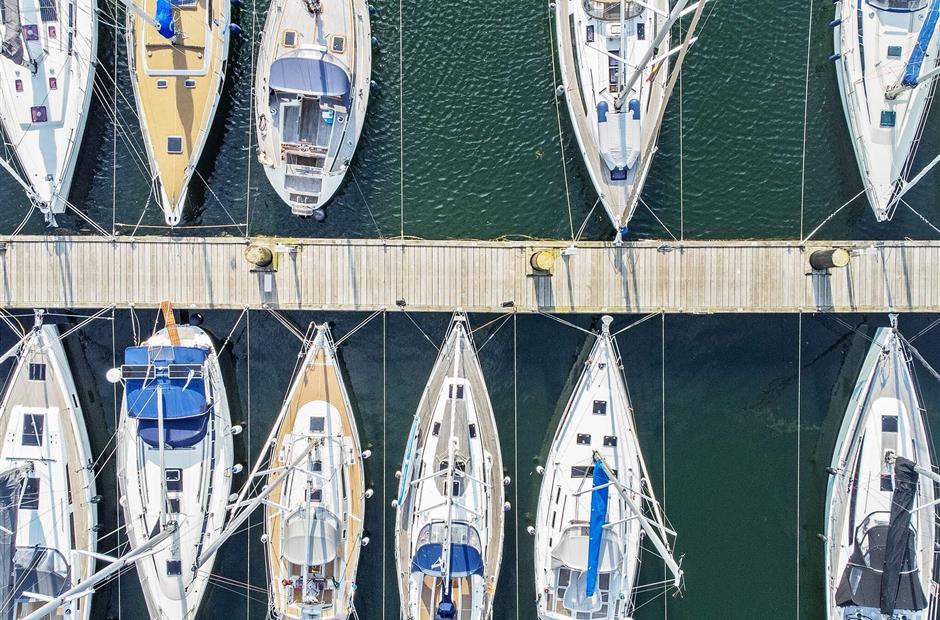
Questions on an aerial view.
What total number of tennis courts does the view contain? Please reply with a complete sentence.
No tennis courts are visible.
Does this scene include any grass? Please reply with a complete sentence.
No, there is no grass in the image.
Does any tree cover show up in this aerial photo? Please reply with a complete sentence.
No, the scene doesn't show any tree cover.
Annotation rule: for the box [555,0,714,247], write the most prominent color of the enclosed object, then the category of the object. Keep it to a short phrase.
white boat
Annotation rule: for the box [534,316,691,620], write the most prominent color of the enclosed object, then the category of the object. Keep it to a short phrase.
white boat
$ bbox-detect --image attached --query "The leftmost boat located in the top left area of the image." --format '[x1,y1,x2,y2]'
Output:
[0,0,96,228]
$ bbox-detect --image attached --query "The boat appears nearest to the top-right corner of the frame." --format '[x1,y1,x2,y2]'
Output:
[836,0,940,224]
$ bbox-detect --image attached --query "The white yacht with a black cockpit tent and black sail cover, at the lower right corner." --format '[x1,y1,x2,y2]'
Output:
[824,312,940,620]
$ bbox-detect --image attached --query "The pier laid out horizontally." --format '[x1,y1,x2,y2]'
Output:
[0,236,940,313]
